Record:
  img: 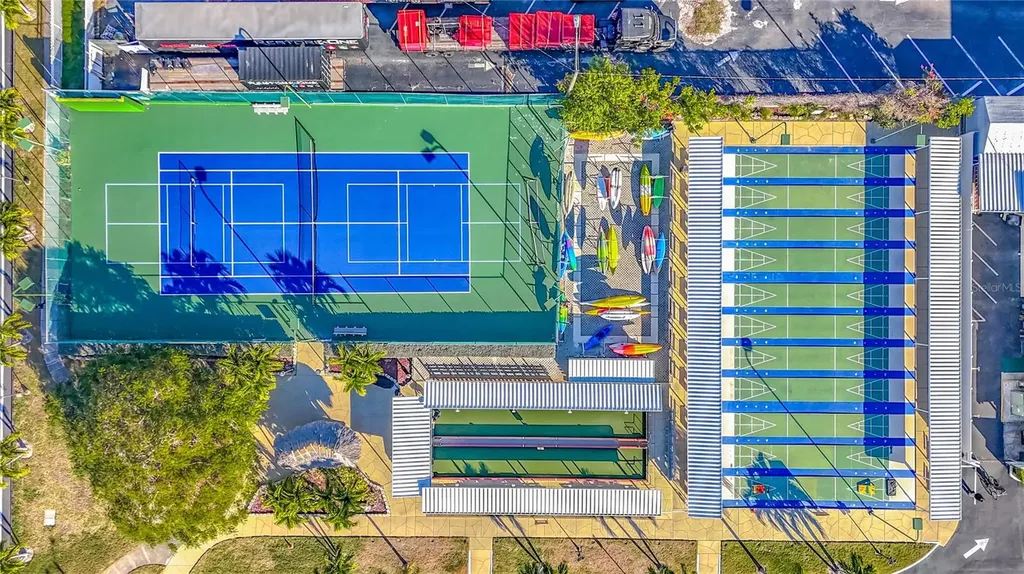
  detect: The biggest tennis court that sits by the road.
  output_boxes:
[61,95,559,343]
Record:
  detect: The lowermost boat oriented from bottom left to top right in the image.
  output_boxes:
[586,325,612,349]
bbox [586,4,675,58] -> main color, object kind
gray truck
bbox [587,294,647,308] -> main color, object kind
yellow boat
